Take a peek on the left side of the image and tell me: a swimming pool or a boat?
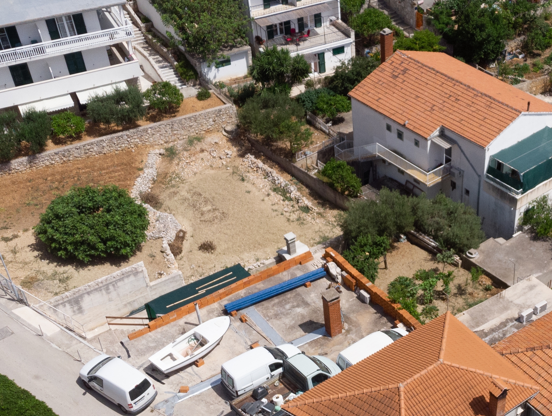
boat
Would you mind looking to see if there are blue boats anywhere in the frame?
No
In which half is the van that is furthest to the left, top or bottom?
bottom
